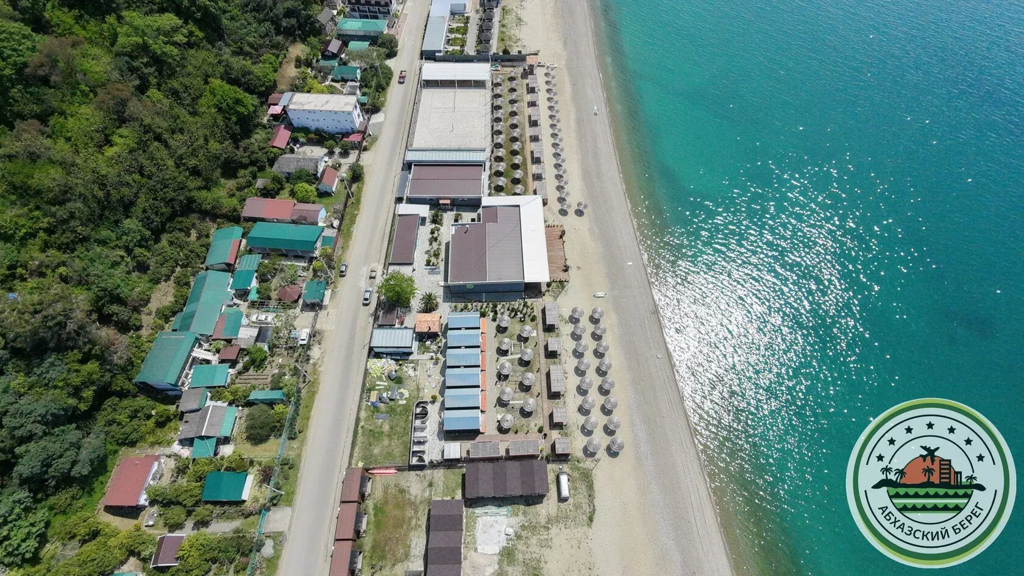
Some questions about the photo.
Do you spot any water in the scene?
Yes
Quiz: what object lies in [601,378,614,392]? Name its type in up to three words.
umbrella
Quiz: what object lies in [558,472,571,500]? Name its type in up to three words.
vehicle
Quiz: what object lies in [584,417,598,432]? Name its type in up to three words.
umbrella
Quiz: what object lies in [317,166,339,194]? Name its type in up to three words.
house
